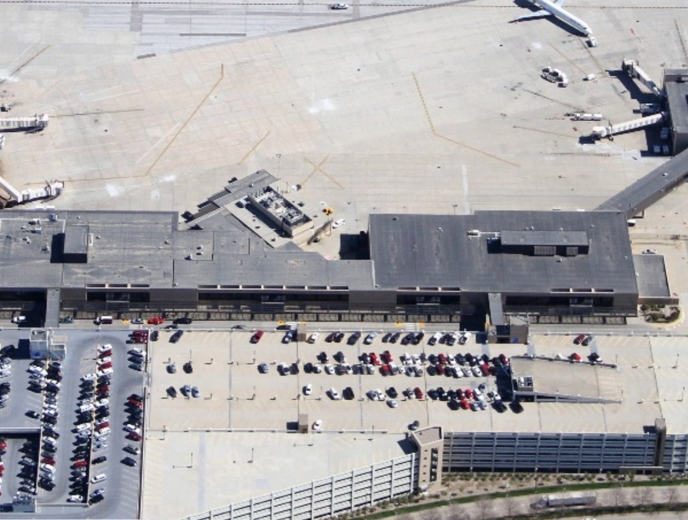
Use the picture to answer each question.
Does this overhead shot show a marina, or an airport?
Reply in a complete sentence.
What you see here is an airport.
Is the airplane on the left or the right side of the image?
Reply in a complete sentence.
The airplane is on the right side of the image.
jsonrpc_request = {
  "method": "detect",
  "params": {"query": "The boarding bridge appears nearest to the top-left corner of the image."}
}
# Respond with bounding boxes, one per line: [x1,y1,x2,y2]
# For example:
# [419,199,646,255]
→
[0,115,54,136]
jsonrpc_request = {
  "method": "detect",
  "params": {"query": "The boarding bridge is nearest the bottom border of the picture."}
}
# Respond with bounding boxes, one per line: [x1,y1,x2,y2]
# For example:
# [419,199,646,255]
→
[0,177,67,210]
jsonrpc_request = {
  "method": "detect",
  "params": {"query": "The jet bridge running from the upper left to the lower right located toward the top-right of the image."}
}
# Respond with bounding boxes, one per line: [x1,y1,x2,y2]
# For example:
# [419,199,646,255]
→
[622,61,666,107]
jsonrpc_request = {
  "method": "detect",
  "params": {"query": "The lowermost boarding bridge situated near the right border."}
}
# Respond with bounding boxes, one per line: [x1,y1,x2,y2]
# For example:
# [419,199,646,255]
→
[593,112,668,144]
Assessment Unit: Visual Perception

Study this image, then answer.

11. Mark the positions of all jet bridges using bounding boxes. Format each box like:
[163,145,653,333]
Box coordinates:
[593,112,668,144]
[0,115,54,136]
[622,61,666,107]
[0,177,67,210]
